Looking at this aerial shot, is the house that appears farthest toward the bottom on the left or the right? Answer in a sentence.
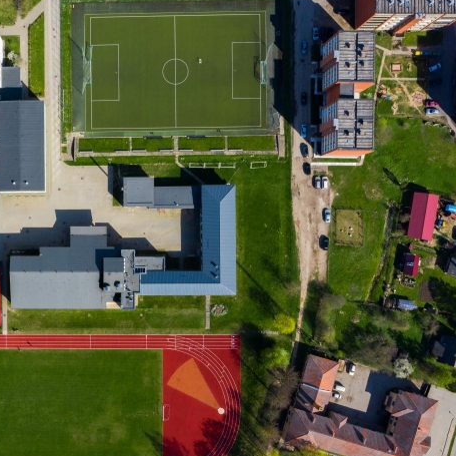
The house that appears farthest toward the bottom appears in the right half of the scene.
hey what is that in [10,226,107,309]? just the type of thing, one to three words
building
